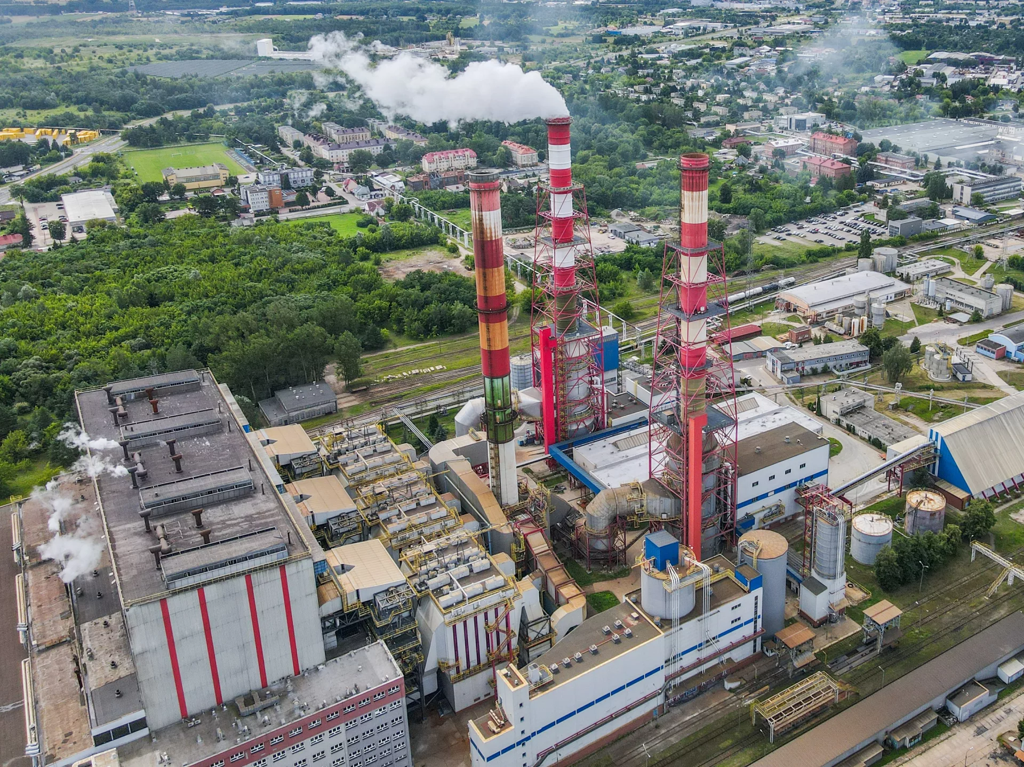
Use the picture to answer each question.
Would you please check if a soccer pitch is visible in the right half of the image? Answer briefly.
No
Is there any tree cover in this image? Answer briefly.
Yes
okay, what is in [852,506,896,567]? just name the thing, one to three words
storage tank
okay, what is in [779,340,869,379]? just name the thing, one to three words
building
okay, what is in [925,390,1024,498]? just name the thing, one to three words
building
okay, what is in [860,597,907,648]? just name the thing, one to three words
shed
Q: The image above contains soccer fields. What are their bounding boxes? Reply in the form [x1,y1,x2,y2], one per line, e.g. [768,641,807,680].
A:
[134,142,239,174]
